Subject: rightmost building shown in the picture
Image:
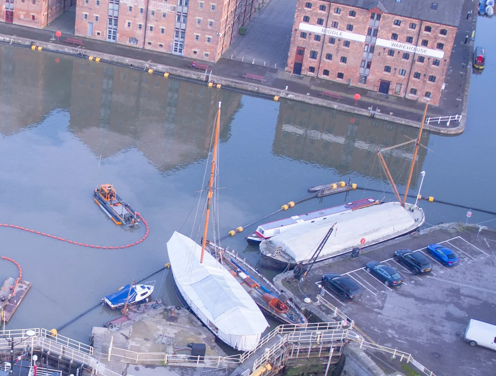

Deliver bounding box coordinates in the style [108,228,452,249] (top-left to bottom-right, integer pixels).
[285,0,471,106]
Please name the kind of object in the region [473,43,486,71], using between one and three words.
boat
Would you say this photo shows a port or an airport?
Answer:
port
